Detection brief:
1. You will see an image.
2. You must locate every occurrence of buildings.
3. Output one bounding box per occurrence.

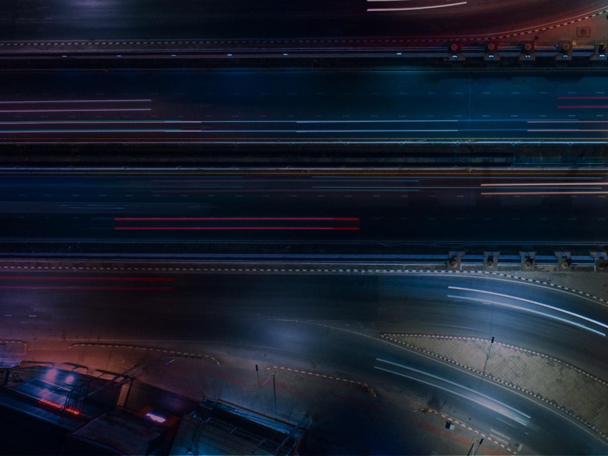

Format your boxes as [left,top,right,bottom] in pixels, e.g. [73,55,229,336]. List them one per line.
[174,392,309,456]
[0,366,129,456]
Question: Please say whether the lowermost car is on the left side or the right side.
right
